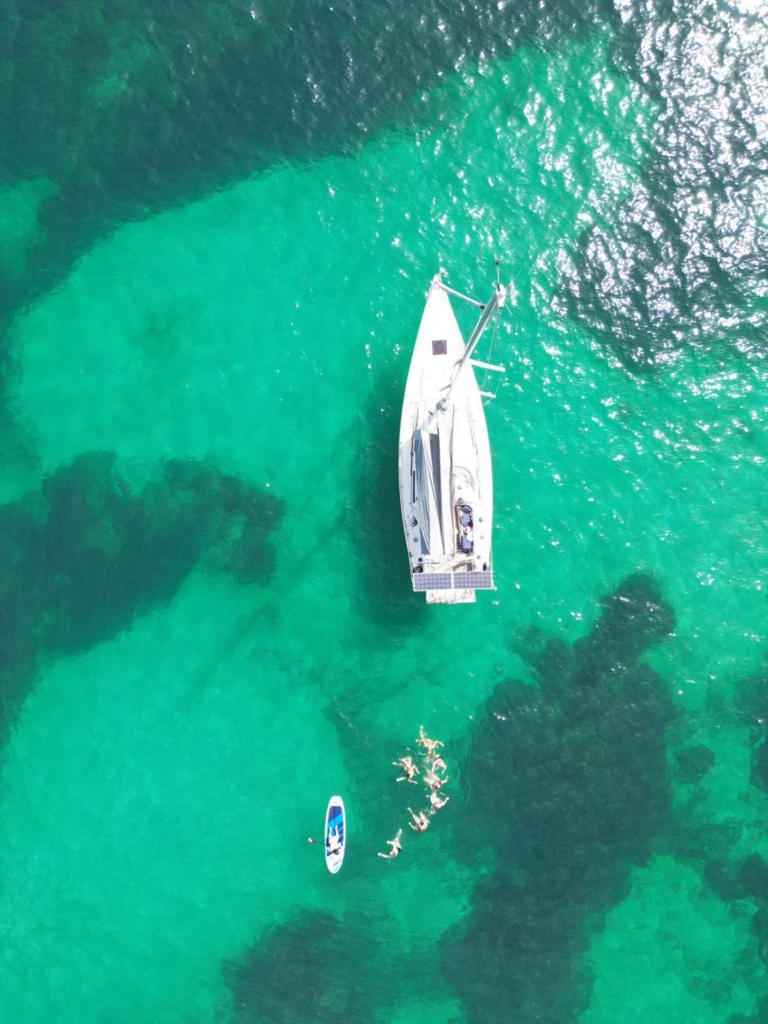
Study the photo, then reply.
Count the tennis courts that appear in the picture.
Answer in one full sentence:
The picture shows no tennis courts.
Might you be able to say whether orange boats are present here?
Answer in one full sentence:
No, no orange boat is visible in the scene.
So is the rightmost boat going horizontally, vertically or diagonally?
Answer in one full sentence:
The rightmost boat is oriented vertically.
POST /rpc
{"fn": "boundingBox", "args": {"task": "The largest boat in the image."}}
[401,214,518,606]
